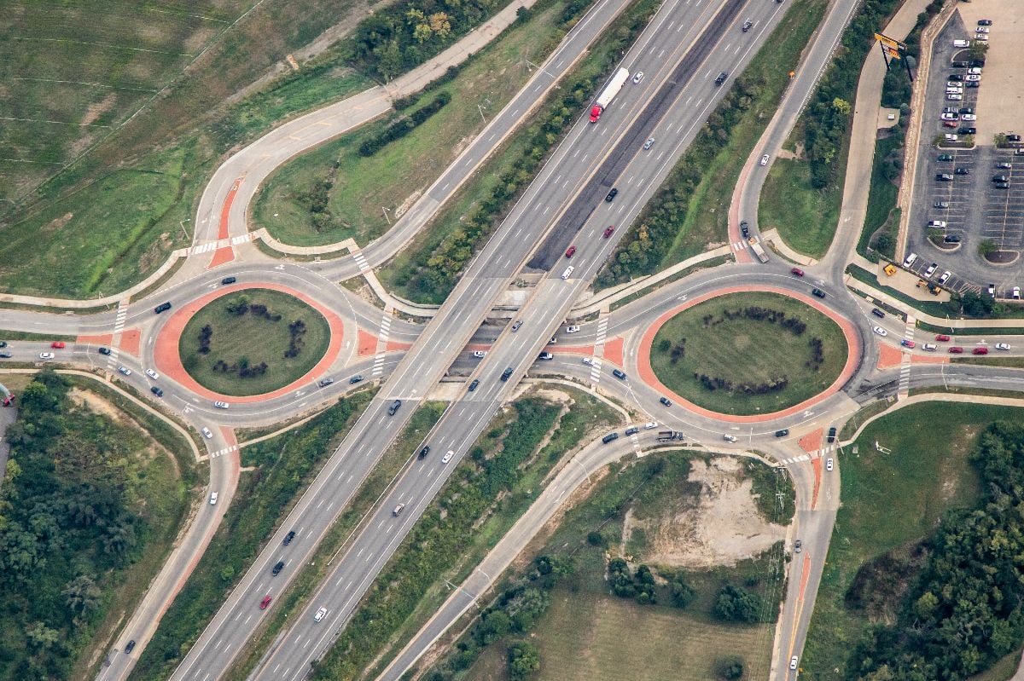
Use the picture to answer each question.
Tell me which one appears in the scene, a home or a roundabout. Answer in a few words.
roundabout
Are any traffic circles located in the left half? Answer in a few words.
Yes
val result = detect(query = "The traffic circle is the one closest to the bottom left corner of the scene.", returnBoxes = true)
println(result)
[139,260,357,429]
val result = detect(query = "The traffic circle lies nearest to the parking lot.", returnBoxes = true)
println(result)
[624,262,877,445]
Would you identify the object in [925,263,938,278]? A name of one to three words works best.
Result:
vehicle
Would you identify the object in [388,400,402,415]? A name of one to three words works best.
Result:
vehicle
